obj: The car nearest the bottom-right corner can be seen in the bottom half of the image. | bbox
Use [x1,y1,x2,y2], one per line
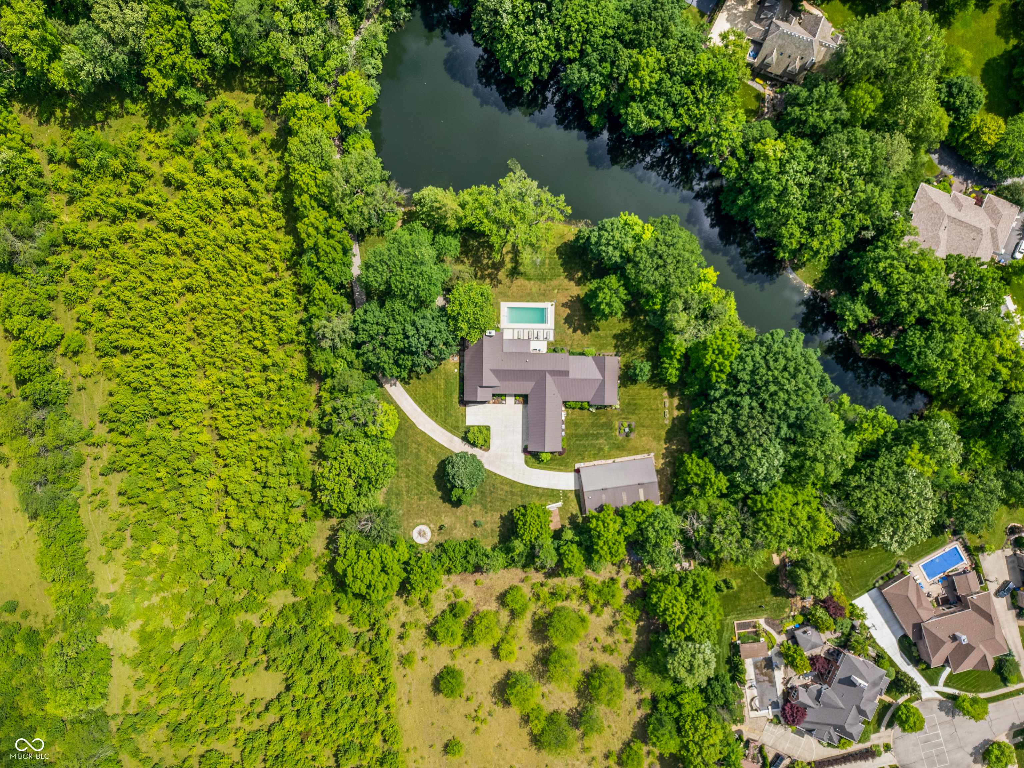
[994,581,1015,599]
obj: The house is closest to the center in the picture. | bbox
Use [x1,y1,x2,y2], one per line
[464,330,619,452]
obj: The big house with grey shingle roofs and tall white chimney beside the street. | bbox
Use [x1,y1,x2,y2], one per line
[789,647,887,746]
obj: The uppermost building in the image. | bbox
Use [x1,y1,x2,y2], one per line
[747,0,837,90]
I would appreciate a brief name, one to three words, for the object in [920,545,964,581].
swimming pool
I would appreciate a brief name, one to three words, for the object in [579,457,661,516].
barn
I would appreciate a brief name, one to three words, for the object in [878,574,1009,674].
house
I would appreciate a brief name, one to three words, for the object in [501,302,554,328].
swimming pool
